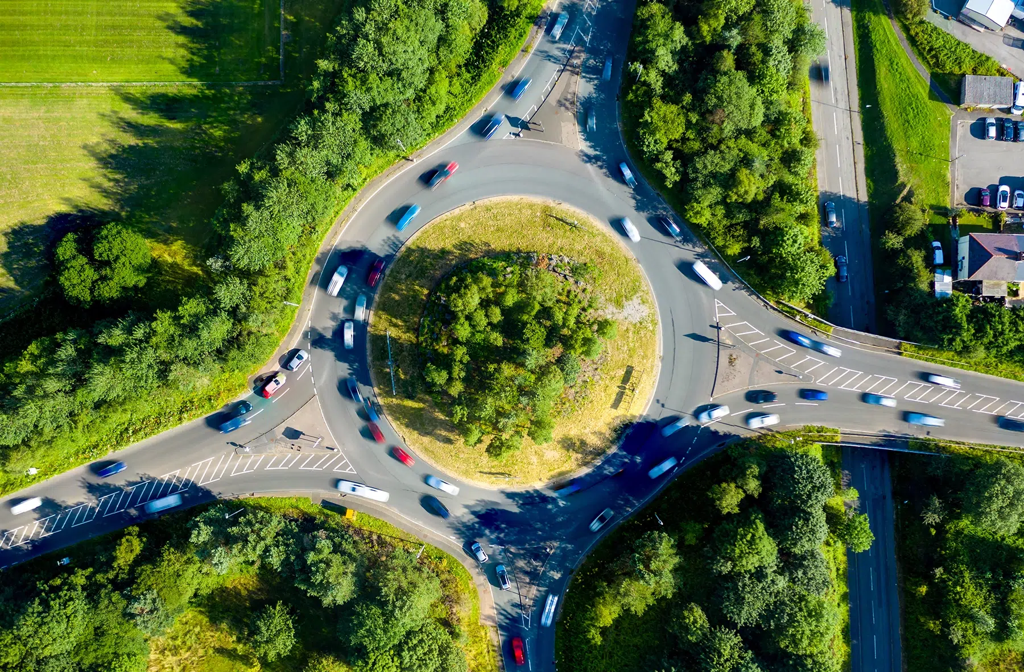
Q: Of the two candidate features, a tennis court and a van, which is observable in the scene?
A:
van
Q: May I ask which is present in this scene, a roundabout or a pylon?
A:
roundabout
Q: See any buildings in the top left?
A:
No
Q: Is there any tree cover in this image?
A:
Yes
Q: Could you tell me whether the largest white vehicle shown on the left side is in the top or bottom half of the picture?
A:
bottom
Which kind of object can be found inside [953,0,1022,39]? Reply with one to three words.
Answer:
building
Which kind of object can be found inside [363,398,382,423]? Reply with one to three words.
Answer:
car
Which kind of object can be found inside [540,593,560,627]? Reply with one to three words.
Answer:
vehicle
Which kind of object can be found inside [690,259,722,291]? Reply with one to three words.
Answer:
van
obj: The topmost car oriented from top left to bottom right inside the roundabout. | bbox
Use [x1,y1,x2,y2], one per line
[617,161,639,188]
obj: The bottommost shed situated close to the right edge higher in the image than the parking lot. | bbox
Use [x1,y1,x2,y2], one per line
[957,74,1014,109]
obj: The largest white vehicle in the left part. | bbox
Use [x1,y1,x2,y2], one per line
[339,478,389,503]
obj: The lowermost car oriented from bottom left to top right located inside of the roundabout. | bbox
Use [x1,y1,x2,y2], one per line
[588,507,614,533]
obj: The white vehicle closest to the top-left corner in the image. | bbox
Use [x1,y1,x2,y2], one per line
[326,265,350,296]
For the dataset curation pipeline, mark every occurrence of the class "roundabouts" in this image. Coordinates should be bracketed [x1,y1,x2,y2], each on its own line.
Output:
[303,123,756,555]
